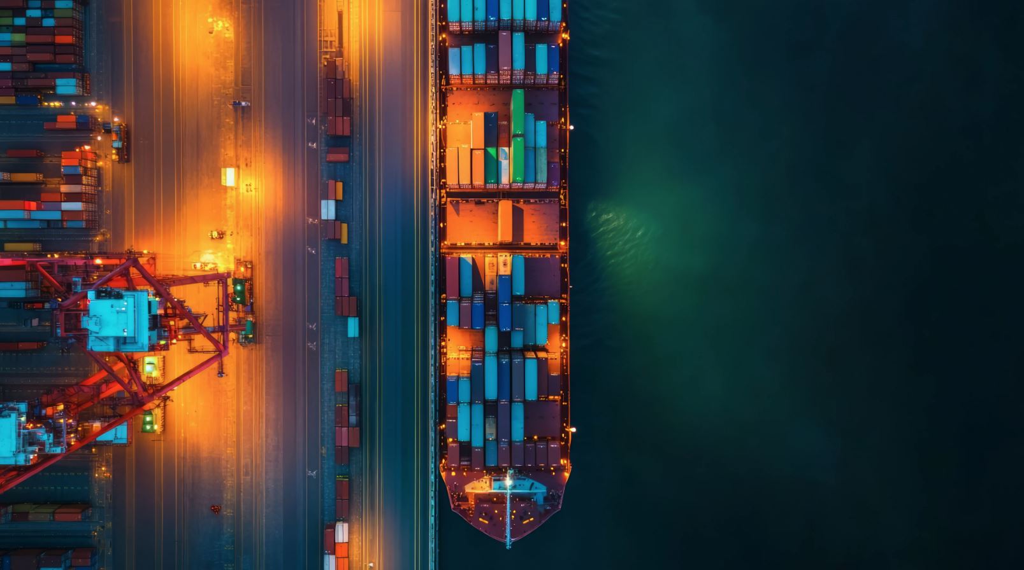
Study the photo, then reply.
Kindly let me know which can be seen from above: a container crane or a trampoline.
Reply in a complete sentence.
There is a container crane in the scene.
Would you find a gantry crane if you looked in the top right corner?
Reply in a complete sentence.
No, in the top right corner there is no gantry crane.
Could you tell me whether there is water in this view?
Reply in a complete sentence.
Yes, water can be seen from above here.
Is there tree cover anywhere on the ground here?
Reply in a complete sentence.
No, the picture contains no tree cover.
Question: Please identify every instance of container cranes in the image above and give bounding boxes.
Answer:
[0,250,254,410]
[0,352,162,496]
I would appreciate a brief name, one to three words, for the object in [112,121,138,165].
work vehicle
